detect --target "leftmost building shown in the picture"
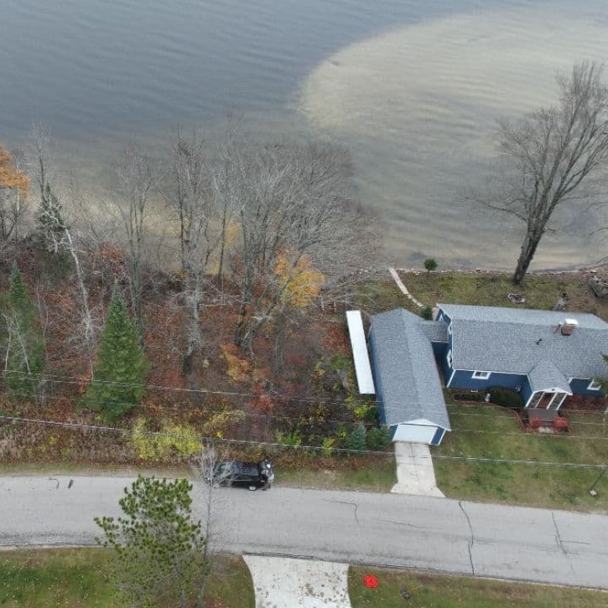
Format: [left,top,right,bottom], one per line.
[365,308,451,448]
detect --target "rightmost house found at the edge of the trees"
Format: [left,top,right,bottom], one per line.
[420,302,608,425]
